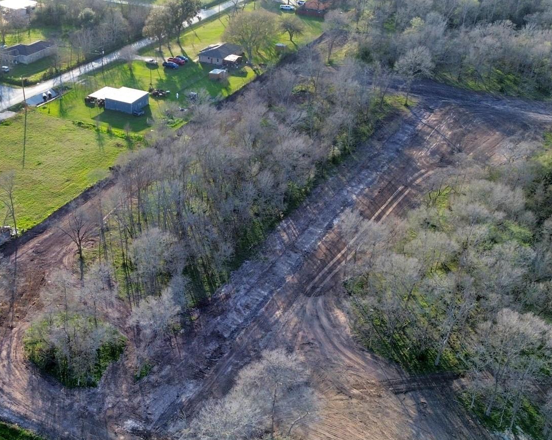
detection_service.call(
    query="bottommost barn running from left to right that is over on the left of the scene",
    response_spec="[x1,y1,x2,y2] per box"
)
[91,86,151,114]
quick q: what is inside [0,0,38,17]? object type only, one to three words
shed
